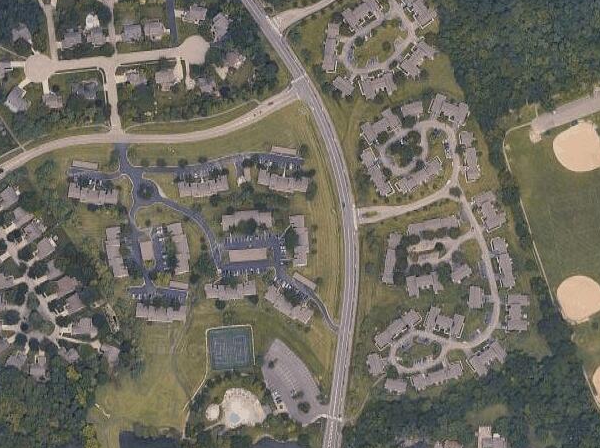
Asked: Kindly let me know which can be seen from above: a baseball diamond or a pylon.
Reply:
baseball diamond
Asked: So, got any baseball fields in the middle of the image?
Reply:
No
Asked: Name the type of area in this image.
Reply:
residential area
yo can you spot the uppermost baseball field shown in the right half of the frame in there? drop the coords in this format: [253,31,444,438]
[551,121,600,173]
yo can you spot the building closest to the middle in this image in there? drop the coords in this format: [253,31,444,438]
[289,215,309,266]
